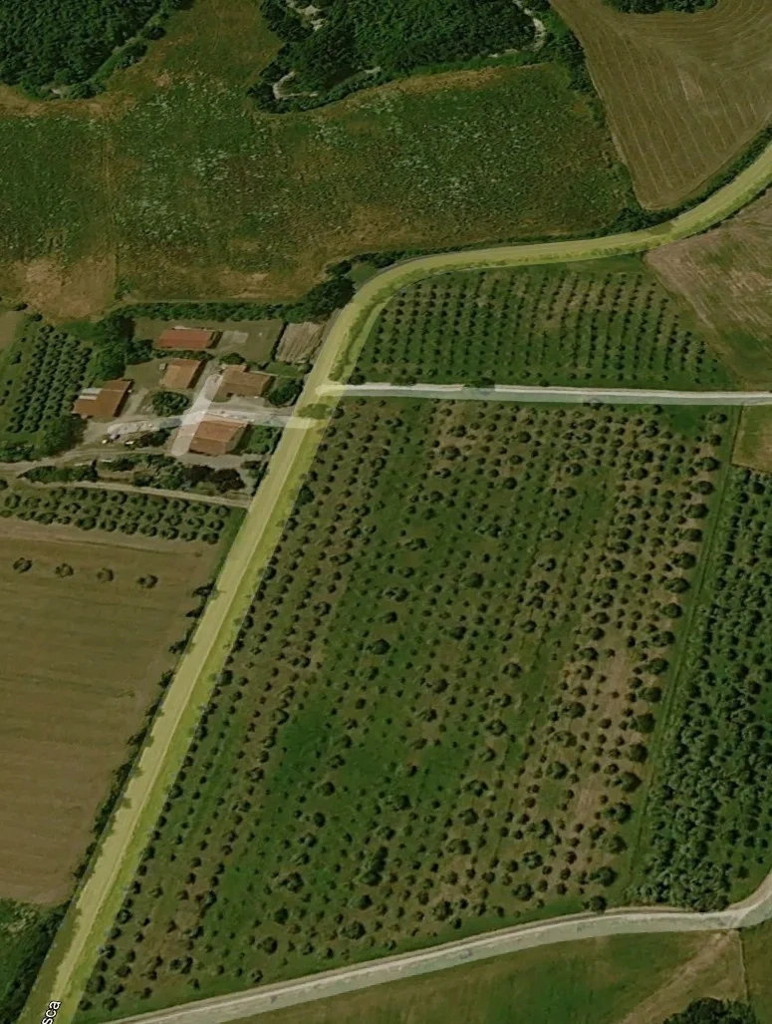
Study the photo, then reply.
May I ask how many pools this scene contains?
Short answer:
0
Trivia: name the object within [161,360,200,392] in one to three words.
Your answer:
house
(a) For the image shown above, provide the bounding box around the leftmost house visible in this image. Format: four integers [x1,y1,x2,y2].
[76,379,132,420]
